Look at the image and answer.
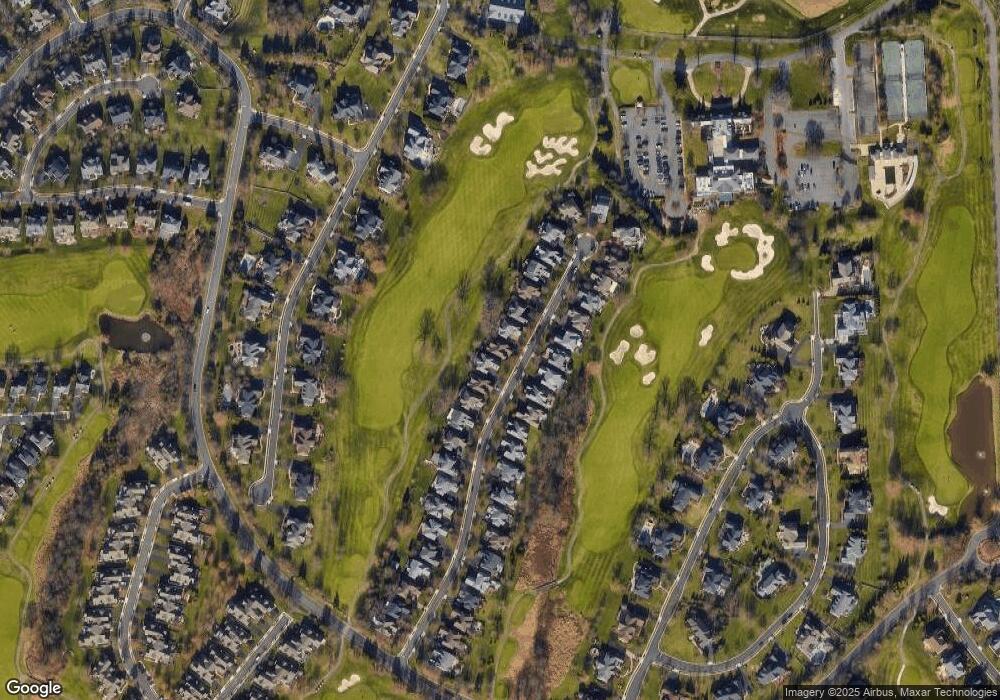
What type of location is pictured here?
residential area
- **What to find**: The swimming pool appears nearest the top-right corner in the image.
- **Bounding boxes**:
[869,156,919,209]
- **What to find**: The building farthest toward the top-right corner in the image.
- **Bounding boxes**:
[870,144,905,158]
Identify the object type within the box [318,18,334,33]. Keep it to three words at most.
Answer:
swimming pool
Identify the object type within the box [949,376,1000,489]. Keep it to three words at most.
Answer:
pond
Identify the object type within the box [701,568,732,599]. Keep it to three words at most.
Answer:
house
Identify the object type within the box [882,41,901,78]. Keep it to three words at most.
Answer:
tennis court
